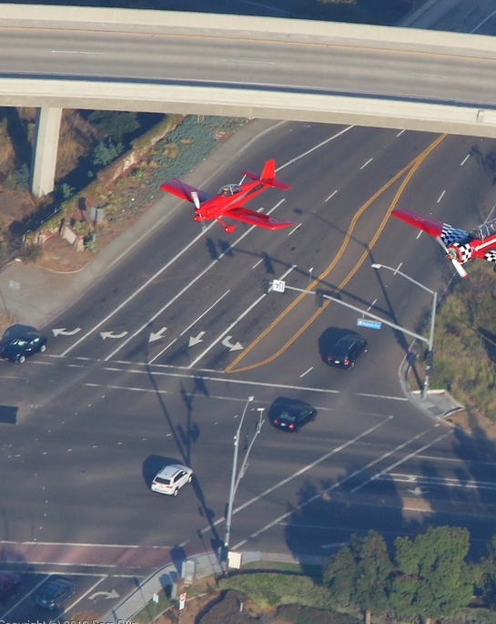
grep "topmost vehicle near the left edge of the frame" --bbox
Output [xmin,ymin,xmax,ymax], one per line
[0,325,47,359]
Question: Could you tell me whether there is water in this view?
No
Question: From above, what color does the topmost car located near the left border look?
blue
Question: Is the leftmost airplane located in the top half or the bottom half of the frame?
top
